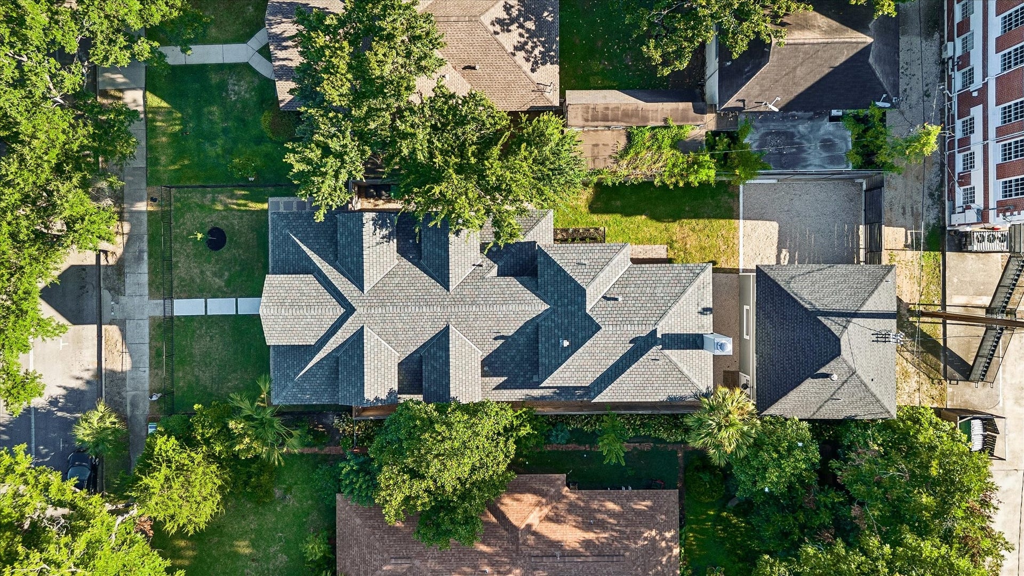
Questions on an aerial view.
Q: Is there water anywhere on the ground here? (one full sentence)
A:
No, no water is visible.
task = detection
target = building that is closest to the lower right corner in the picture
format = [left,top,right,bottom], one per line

[740,264,898,417]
